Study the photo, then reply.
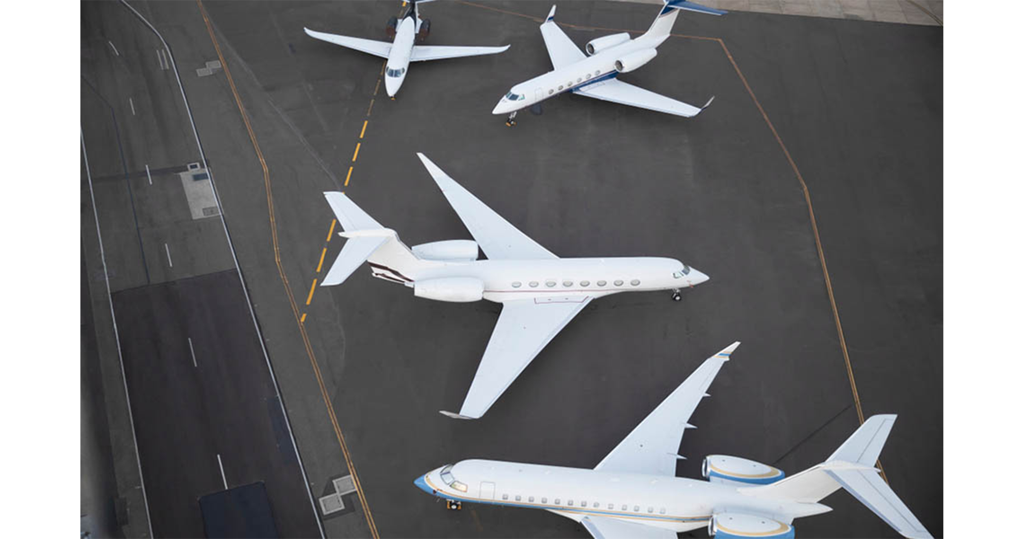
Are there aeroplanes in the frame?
Yes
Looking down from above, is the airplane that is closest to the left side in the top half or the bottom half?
top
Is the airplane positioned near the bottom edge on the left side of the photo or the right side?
right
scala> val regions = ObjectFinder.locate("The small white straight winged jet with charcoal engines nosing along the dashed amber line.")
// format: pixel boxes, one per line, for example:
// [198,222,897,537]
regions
[305,0,511,100]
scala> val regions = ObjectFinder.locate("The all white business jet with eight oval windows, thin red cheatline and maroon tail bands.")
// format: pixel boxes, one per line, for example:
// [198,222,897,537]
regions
[321,152,710,421]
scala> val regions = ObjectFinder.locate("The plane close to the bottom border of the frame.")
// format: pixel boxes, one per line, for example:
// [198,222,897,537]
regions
[413,342,934,539]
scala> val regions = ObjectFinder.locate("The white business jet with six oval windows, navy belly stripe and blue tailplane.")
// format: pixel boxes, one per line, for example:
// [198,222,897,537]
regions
[492,0,729,125]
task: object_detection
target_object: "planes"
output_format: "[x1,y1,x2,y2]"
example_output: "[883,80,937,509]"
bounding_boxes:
[305,0,511,100]
[492,0,729,125]
[321,152,710,421]
[413,342,934,539]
